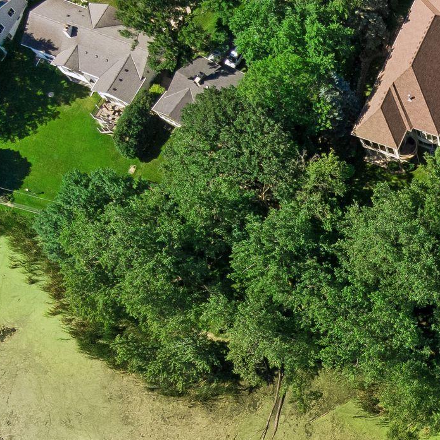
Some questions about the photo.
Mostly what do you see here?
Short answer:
trees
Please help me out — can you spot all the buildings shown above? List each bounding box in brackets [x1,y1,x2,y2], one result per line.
[357,0,440,161]
[21,0,164,141]
[154,55,267,132]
